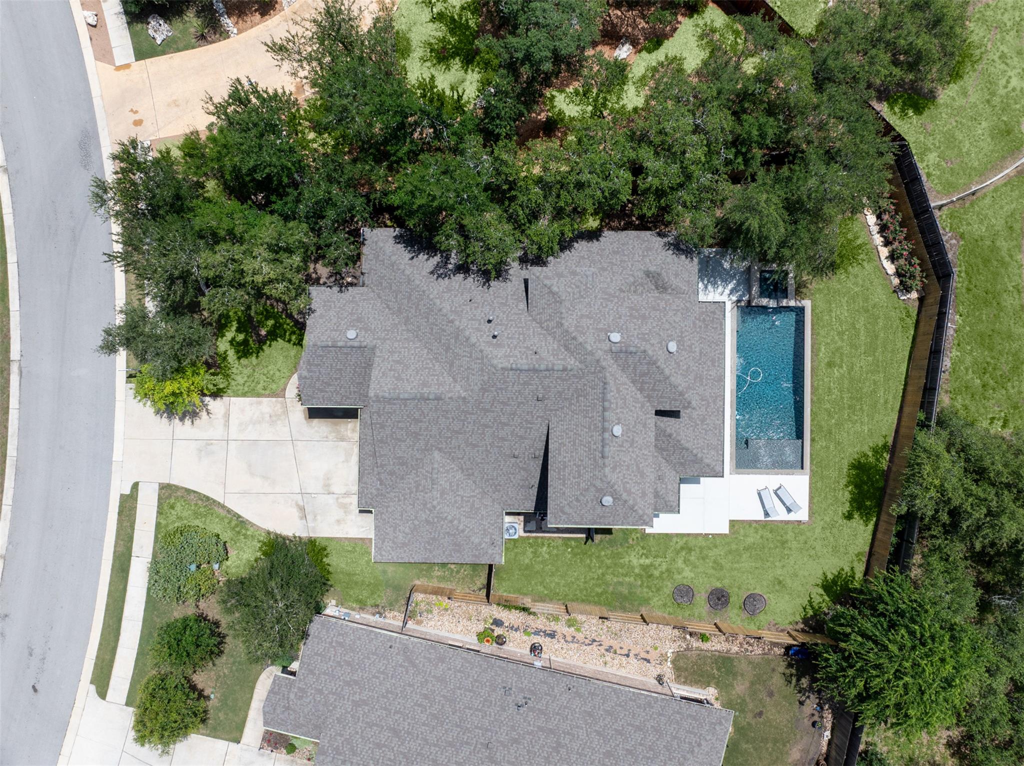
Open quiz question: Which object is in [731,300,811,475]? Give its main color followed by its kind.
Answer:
blue swimming pool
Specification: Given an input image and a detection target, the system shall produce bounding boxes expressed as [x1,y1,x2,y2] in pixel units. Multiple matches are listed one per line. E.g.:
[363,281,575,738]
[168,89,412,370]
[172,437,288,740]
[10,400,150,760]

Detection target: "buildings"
[263,615,734,766]
[298,226,725,565]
